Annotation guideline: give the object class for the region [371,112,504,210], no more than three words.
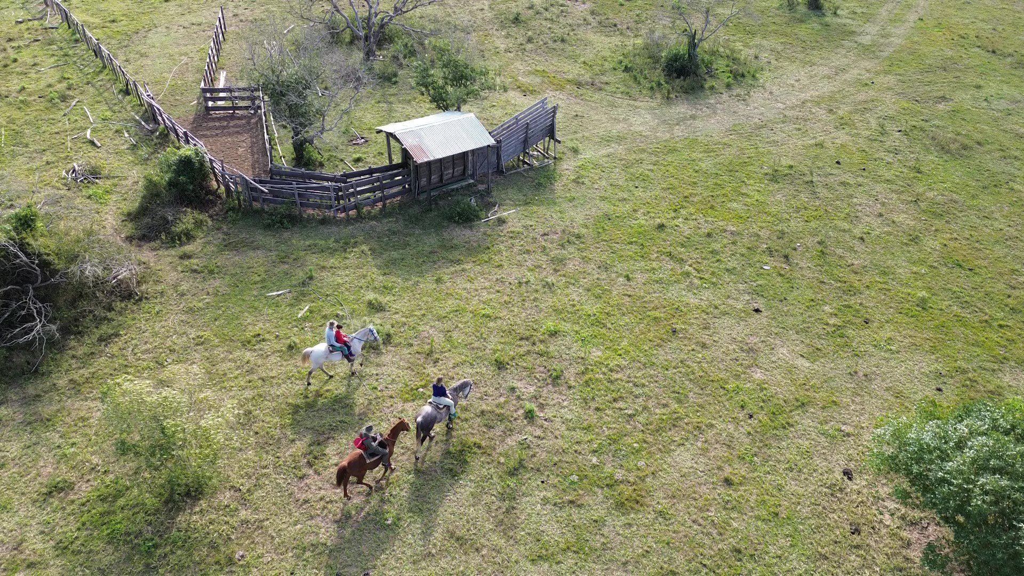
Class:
shed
